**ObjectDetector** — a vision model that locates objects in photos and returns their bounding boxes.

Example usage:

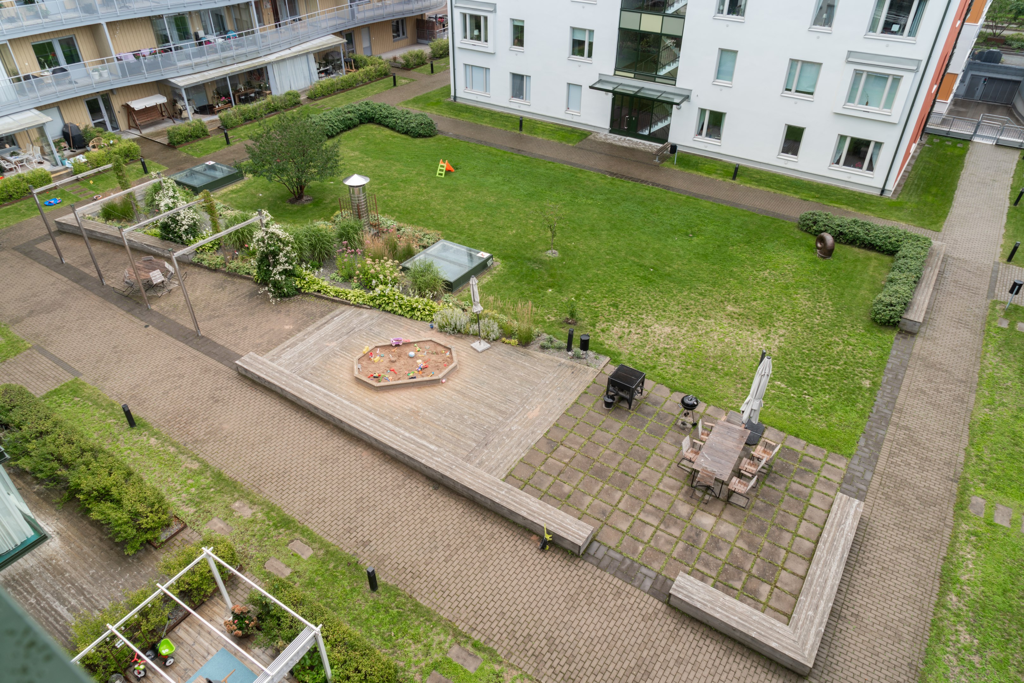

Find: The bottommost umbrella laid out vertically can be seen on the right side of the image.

[736,345,774,445]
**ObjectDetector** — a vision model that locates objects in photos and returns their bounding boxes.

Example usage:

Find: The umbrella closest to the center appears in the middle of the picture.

[471,276,490,351]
